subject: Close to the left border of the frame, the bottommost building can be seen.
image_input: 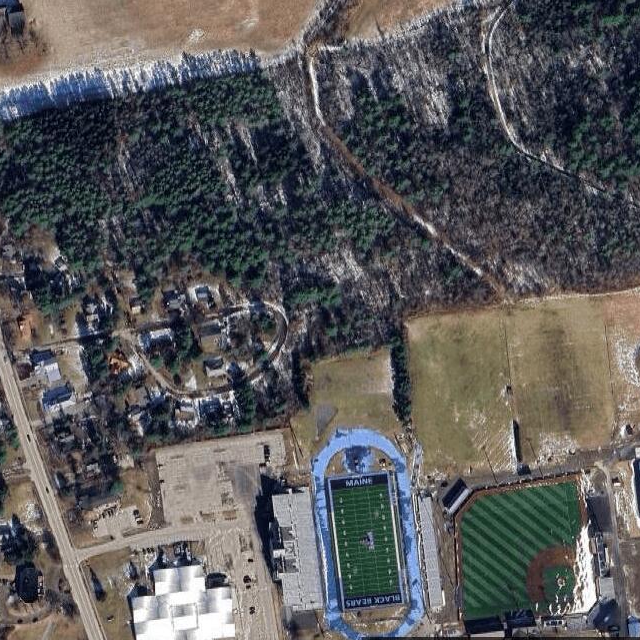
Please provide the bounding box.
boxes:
[15,562,42,605]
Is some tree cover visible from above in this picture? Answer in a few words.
Yes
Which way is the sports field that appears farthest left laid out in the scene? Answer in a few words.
vertically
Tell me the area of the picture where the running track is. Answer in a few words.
bottom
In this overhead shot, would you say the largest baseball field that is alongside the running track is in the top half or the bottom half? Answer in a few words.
bottom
